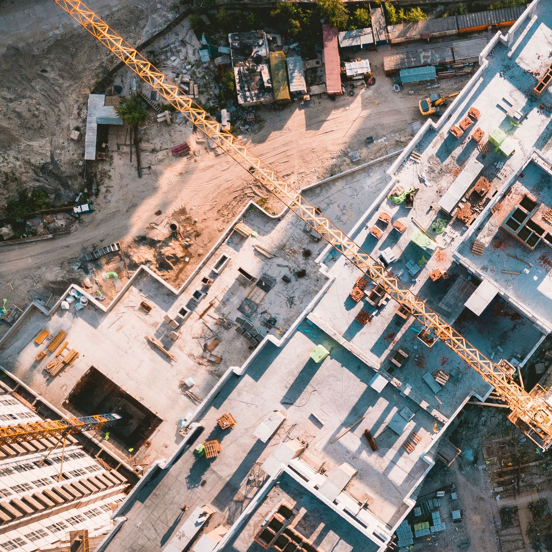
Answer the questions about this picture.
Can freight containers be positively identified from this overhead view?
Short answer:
Yes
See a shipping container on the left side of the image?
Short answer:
No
